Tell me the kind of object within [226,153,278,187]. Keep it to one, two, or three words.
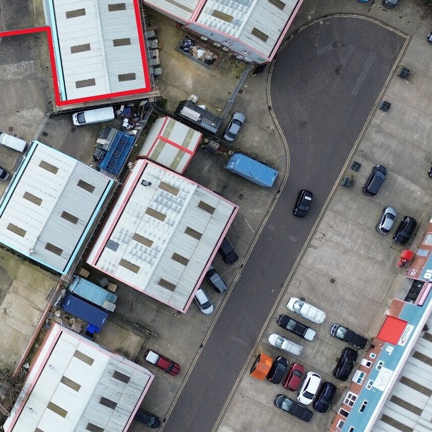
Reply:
shipping container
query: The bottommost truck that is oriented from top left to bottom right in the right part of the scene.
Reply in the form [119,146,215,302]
[271,392,317,427]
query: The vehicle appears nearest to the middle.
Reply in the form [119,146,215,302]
[220,236,240,264]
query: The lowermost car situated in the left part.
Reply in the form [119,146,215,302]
[134,406,162,430]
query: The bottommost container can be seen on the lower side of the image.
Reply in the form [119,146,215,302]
[61,291,109,329]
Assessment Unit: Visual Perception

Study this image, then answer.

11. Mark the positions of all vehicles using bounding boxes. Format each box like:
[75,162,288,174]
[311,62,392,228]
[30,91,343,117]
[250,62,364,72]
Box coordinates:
[361,164,387,198]
[264,332,307,359]
[282,360,305,394]
[313,379,339,413]
[327,323,370,354]
[248,352,273,380]
[194,286,214,316]
[382,0,401,10]
[0,166,11,183]
[220,236,240,264]
[274,314,320,344]
[205,264,230,295]
[142,346,182,376]
[374,205,398,236]
[392,214,420,246]
[223,111,245,144]
[271,392,317,427]
[70,105,118,127]
[284,296,329,327]
[134,406,162,430]
[334,346,357,381]
[266,354,287,385]
[296,369,324,406]
[290,188,315,218]
[0,127,28,154]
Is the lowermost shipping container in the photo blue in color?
Yes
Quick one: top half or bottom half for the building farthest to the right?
bottom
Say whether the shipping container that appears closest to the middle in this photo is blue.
Yes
